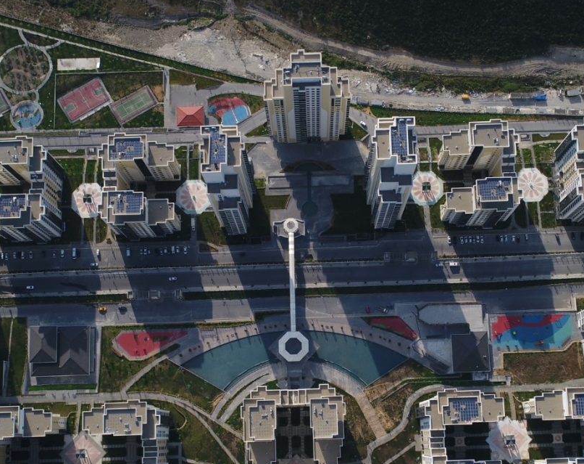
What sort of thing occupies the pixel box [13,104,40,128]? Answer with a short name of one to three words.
playground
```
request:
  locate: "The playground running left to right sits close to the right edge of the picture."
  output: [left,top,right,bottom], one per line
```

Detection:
[491,312,573,349]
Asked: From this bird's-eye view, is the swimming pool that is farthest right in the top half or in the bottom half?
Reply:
bottom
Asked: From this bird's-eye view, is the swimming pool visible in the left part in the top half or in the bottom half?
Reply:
bottom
